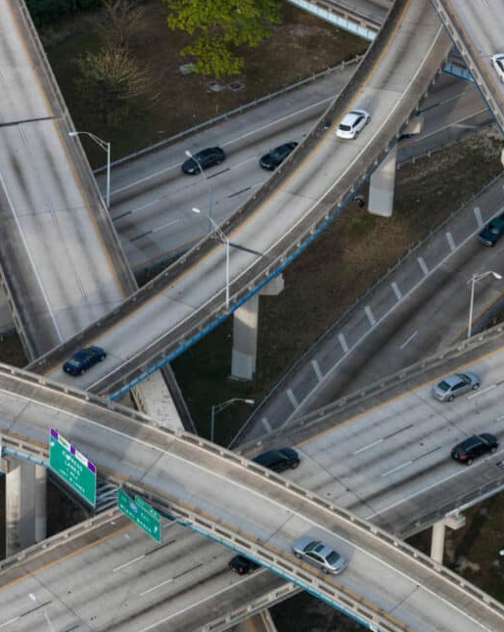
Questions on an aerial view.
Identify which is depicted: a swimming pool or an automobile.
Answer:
automobile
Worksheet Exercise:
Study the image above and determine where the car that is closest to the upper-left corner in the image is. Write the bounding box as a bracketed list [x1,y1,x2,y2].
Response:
[183,145,225,172]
